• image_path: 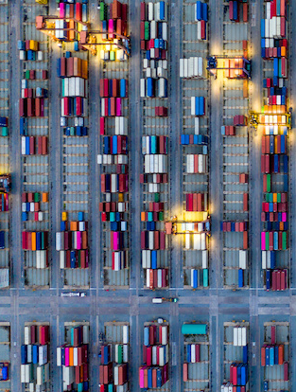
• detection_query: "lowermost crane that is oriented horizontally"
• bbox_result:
[164,217,214,238]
